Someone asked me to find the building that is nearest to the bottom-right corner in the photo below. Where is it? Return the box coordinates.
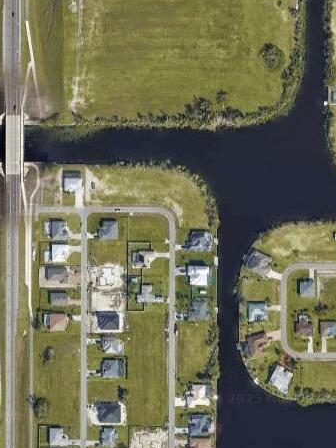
[267,364,295,393]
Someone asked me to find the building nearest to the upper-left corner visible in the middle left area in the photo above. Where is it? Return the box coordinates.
[63,172,82,192]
